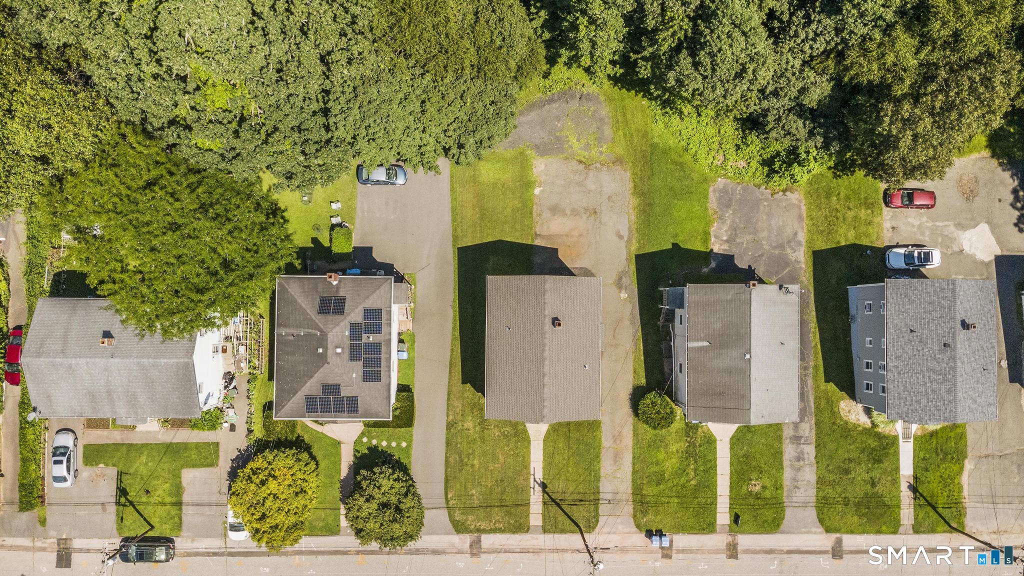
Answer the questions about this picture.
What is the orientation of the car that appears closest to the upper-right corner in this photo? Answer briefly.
from side to side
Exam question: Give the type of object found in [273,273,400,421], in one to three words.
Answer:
house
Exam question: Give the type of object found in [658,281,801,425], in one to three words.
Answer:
house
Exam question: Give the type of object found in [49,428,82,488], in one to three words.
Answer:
car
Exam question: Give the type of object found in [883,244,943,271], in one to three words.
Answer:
car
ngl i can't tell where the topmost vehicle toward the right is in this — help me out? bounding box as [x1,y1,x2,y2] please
[881,186,938,212]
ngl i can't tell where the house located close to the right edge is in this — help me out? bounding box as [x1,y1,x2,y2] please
[847,278,999,423]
